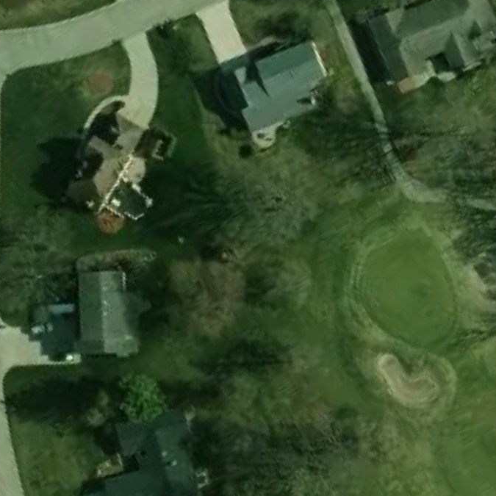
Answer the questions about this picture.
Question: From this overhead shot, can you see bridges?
No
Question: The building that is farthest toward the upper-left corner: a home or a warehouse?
home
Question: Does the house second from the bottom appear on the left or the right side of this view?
left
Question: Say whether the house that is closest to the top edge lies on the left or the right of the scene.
right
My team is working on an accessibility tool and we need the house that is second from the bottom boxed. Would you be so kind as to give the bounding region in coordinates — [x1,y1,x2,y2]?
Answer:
[78,269,130,354]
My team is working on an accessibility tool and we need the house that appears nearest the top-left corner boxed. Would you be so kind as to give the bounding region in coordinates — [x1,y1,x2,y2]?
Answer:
[65,114,147,206]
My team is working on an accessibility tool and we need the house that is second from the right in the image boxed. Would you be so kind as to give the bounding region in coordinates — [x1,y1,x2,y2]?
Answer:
[234,40,338,134]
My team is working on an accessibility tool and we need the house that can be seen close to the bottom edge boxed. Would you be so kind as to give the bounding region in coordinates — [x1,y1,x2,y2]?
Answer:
[104,411,202,496]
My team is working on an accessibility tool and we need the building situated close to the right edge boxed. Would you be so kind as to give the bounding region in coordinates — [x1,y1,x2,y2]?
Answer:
[369,0,496,78]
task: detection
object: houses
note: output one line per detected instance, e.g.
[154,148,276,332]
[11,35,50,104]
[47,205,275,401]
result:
[234,40,338,134]
[65,114,147,206]
[369,0,496,78]
[104,411,202,496]
[78,269,130,354]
